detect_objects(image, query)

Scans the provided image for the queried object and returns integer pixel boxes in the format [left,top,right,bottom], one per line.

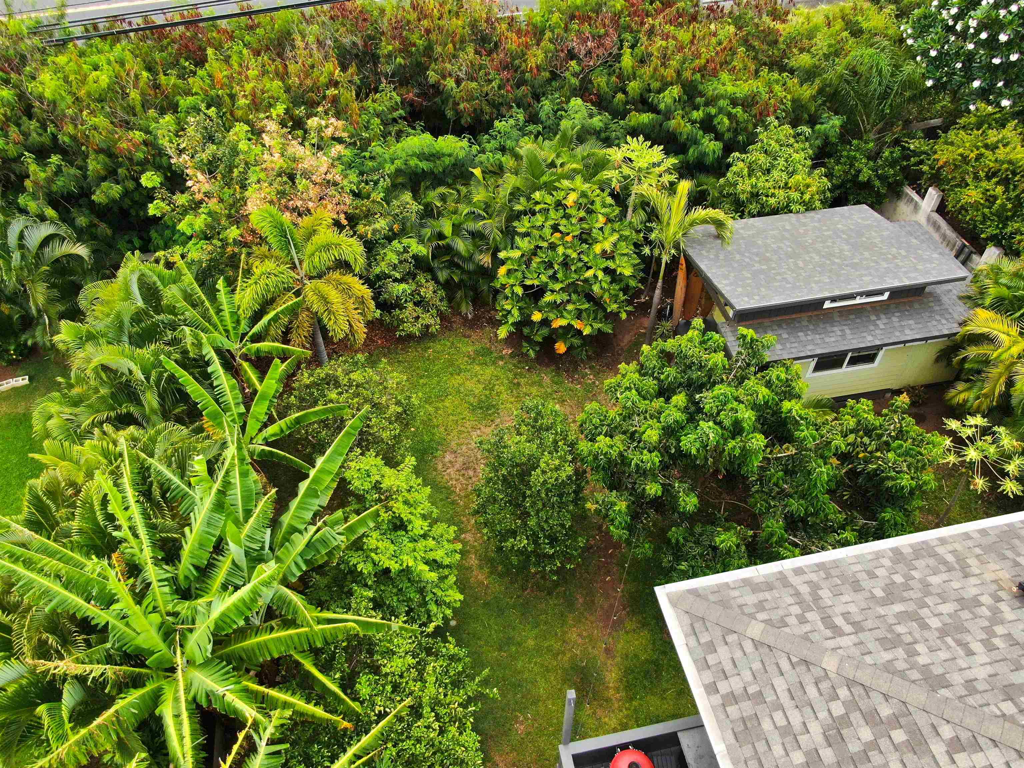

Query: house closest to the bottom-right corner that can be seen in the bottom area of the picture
[641,502,1024,768]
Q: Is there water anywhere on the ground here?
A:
No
